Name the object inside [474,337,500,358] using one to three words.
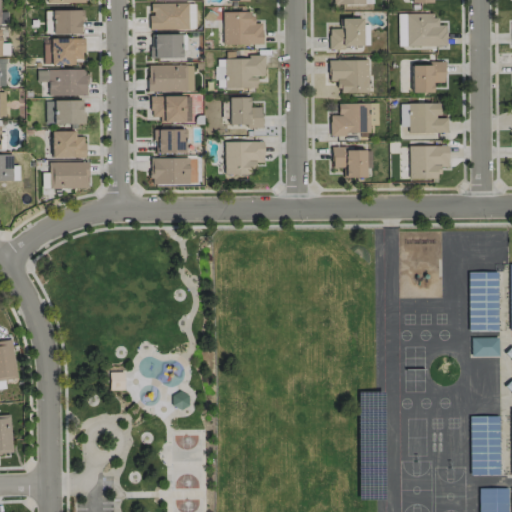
building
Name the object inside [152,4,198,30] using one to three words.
house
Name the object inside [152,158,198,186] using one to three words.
house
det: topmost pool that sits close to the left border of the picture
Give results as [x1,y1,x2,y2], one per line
[8,66,20,86]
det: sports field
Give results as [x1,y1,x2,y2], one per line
[217,230,377,512]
